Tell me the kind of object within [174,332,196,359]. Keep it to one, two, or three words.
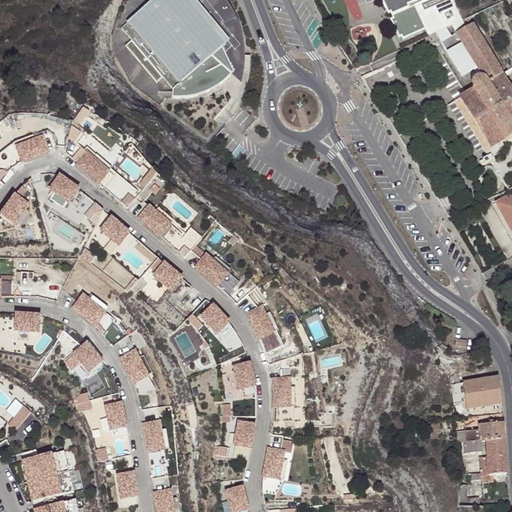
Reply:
swimming pool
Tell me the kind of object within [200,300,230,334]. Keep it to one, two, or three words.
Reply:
house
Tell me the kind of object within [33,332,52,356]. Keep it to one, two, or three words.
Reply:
swimming pool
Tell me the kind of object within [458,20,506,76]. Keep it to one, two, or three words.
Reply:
building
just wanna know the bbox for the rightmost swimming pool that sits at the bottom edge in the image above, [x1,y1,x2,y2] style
[281,482,302,497]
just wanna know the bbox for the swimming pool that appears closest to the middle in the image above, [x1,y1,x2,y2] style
[208,228,224,244]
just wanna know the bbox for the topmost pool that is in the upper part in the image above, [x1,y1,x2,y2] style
[120,156,142,181]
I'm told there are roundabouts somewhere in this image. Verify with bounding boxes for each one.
[265,70,336,142]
